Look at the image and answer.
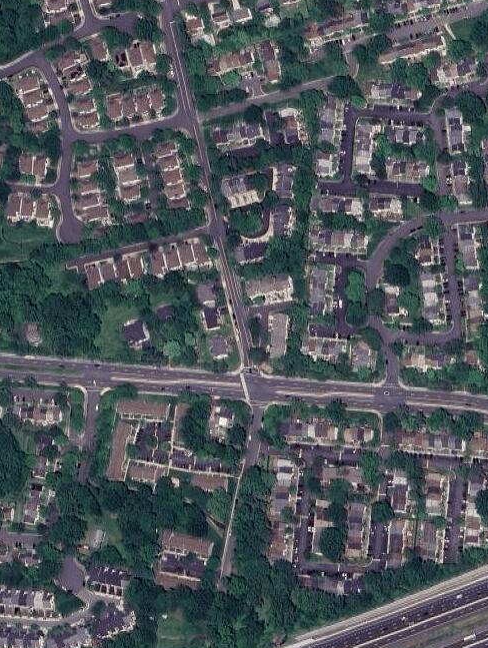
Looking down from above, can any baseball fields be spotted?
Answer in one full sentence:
No, I can see no baseball field in this picture.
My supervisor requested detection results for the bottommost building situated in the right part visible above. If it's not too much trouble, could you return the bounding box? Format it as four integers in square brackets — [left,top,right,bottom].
[298,575,366,597]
